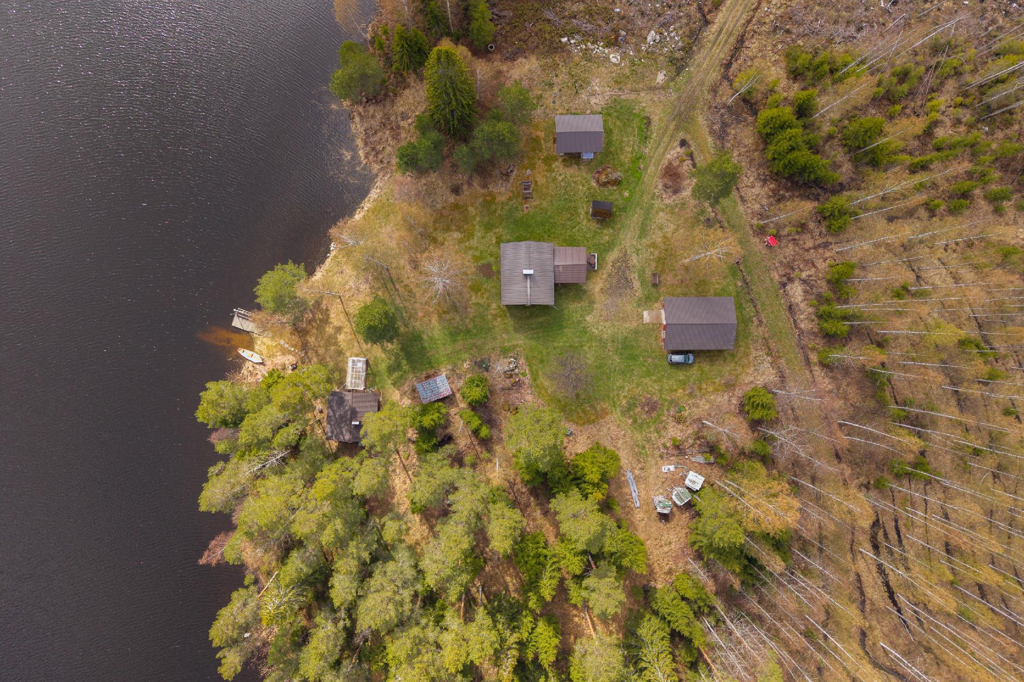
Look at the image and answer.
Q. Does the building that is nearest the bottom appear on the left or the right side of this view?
left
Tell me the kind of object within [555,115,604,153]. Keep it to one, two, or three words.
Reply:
building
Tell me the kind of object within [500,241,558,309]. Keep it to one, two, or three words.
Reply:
house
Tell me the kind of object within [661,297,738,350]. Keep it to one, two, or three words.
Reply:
building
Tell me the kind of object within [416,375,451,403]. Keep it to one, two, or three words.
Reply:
shed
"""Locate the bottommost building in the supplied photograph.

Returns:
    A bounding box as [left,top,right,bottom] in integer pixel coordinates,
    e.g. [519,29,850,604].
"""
[327,392,379,444]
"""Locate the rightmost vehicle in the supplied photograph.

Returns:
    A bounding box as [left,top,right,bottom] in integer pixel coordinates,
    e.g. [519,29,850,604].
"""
[667,352,694,366]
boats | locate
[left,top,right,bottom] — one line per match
[237,349,263,364]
